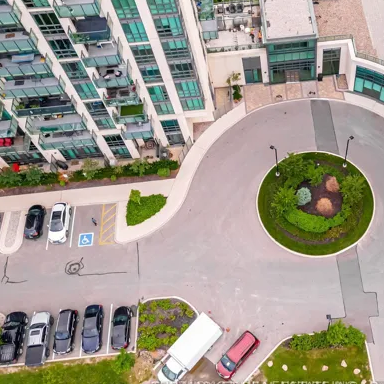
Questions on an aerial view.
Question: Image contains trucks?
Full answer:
Yes, a truck is visible in the scene.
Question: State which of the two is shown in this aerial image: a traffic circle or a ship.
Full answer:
Looking from above, you can make out a traffic circle.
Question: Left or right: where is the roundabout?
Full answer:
The roundabout sits on the right side.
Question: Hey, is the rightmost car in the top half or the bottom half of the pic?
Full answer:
It is in the bottom half that the rightmost car appears.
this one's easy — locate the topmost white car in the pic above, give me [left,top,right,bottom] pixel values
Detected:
[47,204,72,246]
